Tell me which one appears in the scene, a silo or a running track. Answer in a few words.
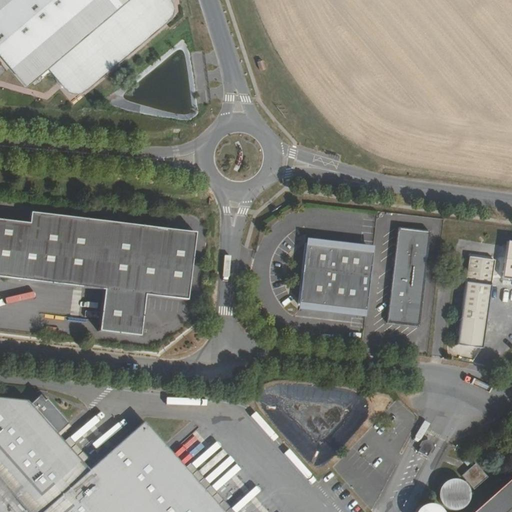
silo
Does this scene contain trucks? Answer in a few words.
Yes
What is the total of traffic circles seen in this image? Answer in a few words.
1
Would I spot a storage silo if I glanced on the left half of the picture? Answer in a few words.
No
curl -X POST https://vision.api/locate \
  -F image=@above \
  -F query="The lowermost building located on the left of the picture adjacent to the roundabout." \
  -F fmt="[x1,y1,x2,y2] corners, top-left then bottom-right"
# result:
[0,210,198,336]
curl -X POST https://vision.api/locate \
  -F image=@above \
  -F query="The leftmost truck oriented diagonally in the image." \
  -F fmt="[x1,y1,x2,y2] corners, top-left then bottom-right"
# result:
[70,410,106,441]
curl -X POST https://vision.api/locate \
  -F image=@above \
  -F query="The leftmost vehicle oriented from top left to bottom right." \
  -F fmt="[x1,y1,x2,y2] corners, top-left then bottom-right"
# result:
[250,410,281,442]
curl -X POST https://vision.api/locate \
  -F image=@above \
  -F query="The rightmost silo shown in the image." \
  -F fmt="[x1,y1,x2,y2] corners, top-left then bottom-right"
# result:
[438,476,472,510]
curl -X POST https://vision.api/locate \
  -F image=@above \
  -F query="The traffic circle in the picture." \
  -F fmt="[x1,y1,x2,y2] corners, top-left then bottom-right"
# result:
[196,114,282,200]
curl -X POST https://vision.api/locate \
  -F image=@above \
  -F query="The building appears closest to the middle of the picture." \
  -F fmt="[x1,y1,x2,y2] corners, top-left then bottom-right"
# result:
[300,238,376,316]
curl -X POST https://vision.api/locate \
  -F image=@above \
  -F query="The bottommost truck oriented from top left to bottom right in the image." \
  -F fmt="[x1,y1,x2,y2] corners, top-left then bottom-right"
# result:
[284,448,316,484]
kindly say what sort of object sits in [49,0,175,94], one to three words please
building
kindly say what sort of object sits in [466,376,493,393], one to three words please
vehicle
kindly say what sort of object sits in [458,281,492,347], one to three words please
building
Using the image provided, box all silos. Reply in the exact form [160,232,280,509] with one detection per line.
[438,476,472,510]
[416,499,450,512]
